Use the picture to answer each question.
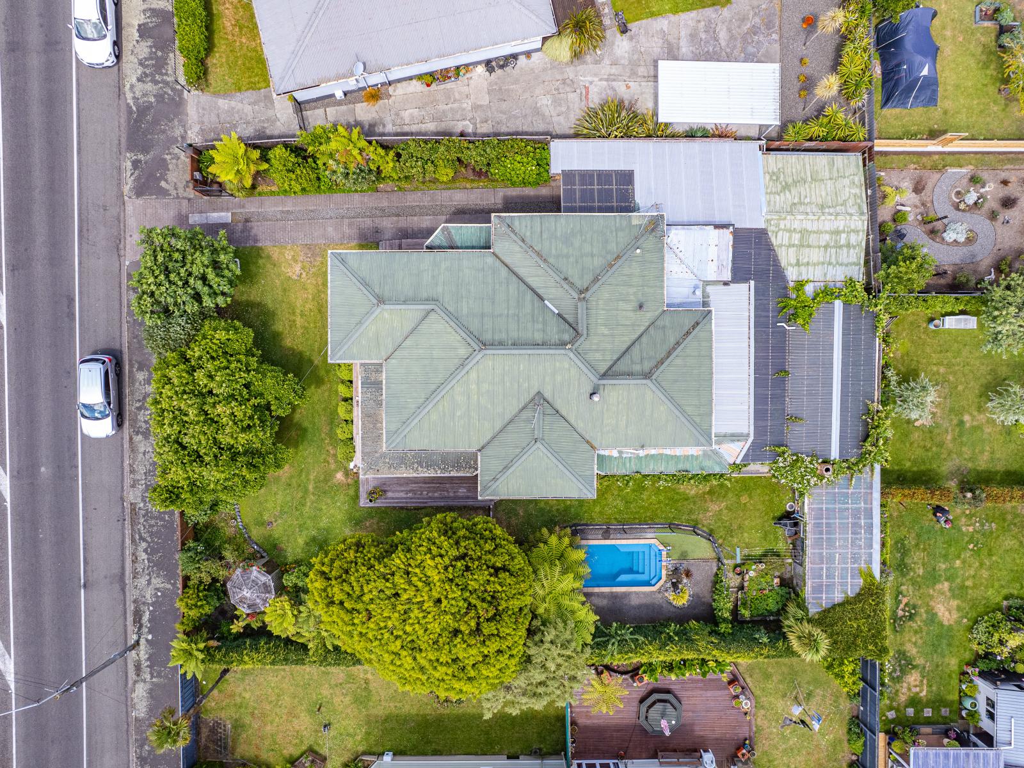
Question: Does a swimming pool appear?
Yes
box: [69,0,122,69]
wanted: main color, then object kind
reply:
white car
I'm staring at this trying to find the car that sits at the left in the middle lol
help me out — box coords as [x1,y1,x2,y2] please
[73,355,125,438]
